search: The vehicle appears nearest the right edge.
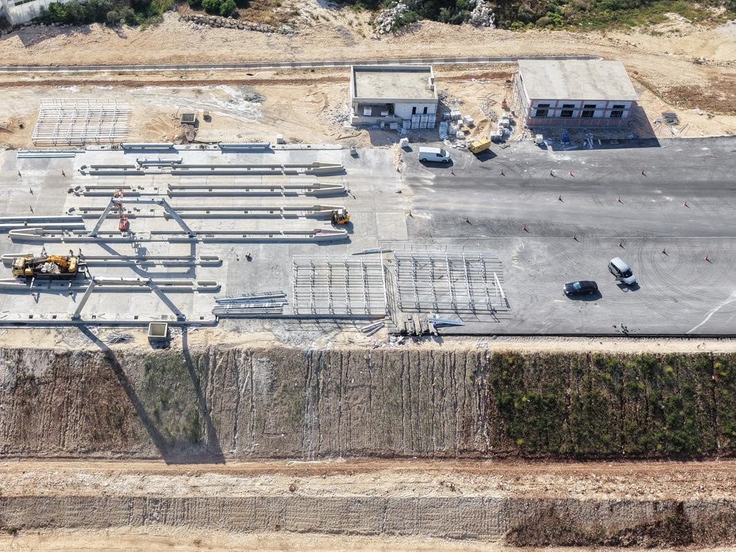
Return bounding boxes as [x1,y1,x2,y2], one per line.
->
[608,256,640,286]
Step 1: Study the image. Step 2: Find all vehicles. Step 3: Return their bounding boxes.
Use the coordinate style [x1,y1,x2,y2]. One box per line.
[5,248,93,297]
[326,206,351,227]
[418,146,452,165]
[564,282,602,299]
[608,256,640,286]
